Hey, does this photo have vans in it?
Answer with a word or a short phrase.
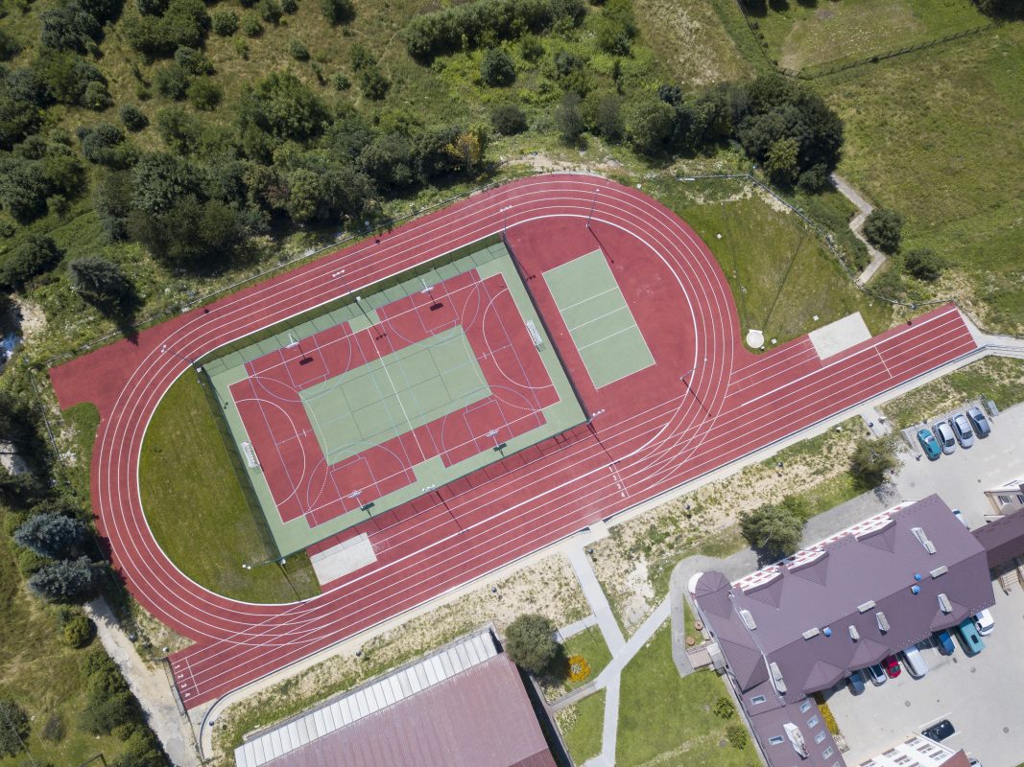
Yes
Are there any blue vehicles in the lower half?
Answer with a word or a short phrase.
Yes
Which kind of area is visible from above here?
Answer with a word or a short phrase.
sports ground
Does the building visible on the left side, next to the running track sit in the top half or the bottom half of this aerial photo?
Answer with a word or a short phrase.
bottom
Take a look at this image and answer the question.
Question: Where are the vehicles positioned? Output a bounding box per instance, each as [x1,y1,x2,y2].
[952,616,985,657]
[970,606,999,641]
[931,421,957,454]
[948,414,975,447]
[881,653,904,682]
[898,643,929,681]
[961,747,984,767]
[843,671,868,702]
[932,627,958,660]
[919,715,958,745]
[915,428,942,462]
[865,660,890,691]
[965,405,993,439]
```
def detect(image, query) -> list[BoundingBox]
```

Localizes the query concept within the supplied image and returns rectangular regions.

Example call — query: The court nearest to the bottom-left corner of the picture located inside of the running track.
[203,241,587,557]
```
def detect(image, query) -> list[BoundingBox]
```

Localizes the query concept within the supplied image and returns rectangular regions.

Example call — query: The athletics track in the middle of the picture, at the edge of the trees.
[50,175,979,711]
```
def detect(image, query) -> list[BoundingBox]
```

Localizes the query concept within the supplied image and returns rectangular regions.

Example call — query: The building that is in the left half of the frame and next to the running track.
[238,625,556,767]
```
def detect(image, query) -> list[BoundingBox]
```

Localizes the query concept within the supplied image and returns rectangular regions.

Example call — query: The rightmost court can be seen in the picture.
[542,249,656,390]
